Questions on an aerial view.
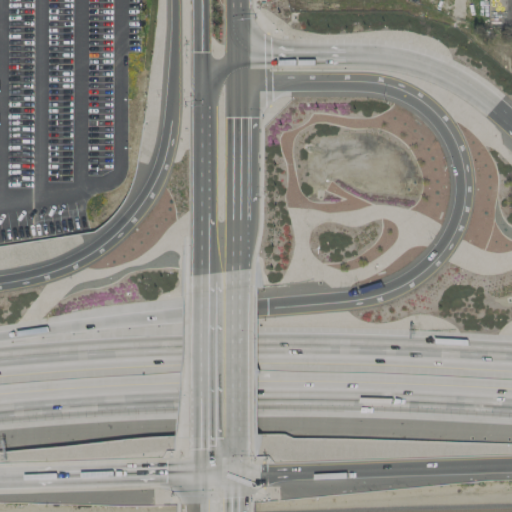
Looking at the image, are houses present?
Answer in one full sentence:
No, no house is visible in the scene.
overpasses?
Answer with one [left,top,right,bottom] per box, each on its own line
[176,266,258,454]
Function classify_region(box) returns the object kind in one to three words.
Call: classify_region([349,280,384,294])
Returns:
vehicle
